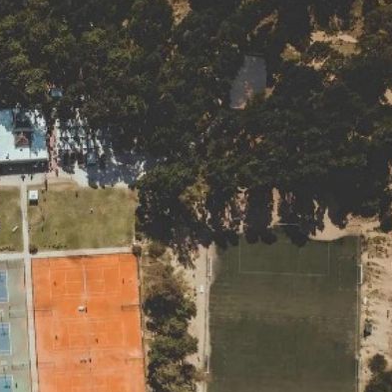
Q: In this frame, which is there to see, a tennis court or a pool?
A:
tennis court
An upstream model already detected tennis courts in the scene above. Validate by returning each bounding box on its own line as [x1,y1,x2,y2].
[31,253,139,310]
[0,260,26,312]
[38,359,145,392]
[34,305,143,364]
[0,311,30,366]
